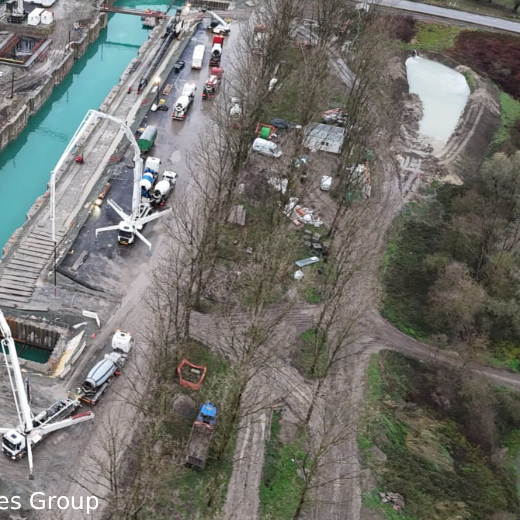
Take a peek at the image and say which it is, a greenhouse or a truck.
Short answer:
truck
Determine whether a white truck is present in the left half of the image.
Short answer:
Yes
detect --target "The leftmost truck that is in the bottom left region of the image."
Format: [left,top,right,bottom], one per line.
[0,315,96,484]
